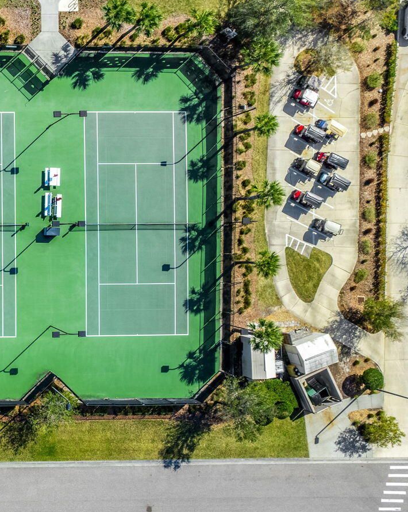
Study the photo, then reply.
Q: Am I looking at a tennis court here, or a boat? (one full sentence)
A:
There is a tennis court in the scene.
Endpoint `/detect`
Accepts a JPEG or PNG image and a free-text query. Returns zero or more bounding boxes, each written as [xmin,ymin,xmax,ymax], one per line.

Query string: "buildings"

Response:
[284,331,339,375]
[236,332,274,379]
